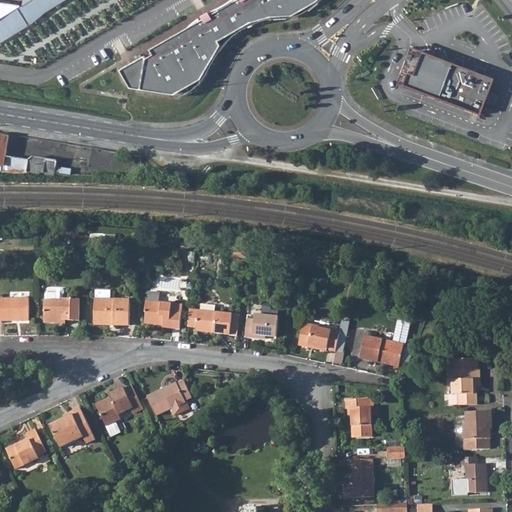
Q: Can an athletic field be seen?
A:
No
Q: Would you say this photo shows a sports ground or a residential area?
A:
residential area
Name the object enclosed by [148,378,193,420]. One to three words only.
house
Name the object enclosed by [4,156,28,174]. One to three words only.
building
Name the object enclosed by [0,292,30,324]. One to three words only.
house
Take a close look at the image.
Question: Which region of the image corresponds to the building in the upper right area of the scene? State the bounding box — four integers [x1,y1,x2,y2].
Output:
[396,46,494,117]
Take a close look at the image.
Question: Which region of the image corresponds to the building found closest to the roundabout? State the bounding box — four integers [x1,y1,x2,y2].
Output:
[118,0,318,94]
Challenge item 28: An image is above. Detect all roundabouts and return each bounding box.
[224,36,340,152]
